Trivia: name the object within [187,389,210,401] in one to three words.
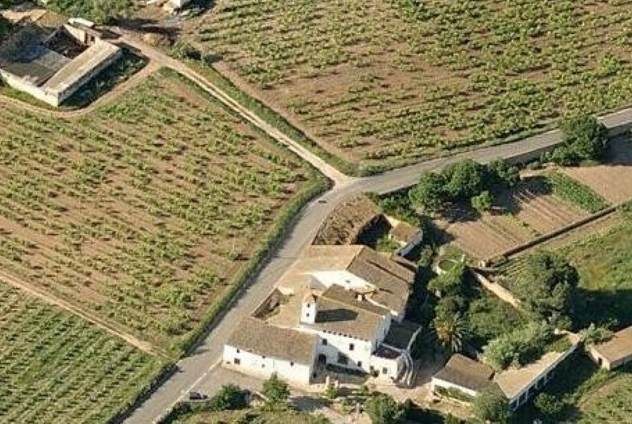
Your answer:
vehicle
